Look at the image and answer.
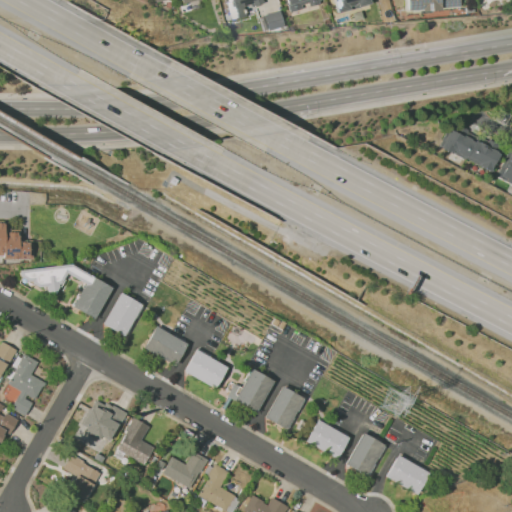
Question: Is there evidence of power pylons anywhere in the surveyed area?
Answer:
Yes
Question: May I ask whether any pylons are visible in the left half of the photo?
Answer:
No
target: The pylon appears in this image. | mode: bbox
[380,388,416,416]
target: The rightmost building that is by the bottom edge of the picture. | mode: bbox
[384,454,428,493]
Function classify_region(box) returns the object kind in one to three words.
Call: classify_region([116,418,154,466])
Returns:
house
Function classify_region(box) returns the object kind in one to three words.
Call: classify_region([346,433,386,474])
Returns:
building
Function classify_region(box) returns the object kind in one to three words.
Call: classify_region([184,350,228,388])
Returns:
building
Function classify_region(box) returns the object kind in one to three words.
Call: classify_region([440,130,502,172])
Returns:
house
